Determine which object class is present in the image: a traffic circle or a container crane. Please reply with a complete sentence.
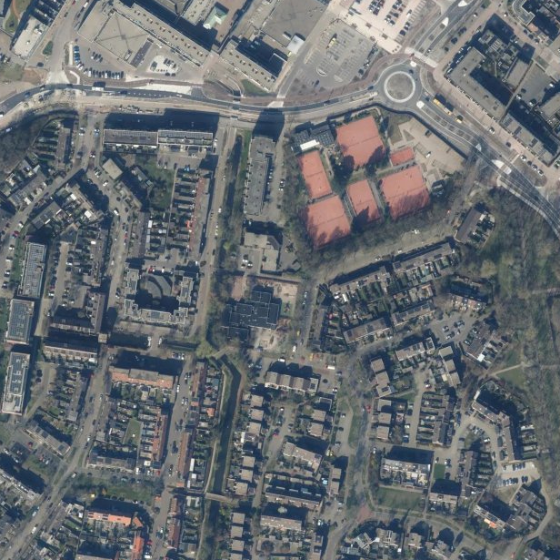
I can see a traffic circle in this picture.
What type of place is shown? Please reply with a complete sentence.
The area seen from above is a residential area.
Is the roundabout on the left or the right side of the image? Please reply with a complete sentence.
The roundabout is on the right side of the image.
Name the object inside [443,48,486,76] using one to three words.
building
